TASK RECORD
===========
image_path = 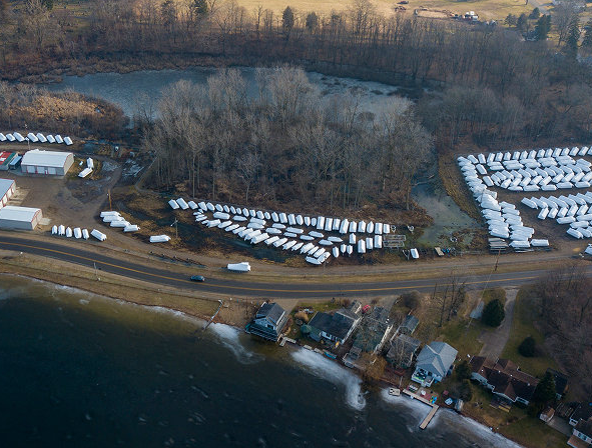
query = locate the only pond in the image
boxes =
[0,67,426,142]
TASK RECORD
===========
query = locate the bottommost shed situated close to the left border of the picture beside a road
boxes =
[0,204,41,230]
